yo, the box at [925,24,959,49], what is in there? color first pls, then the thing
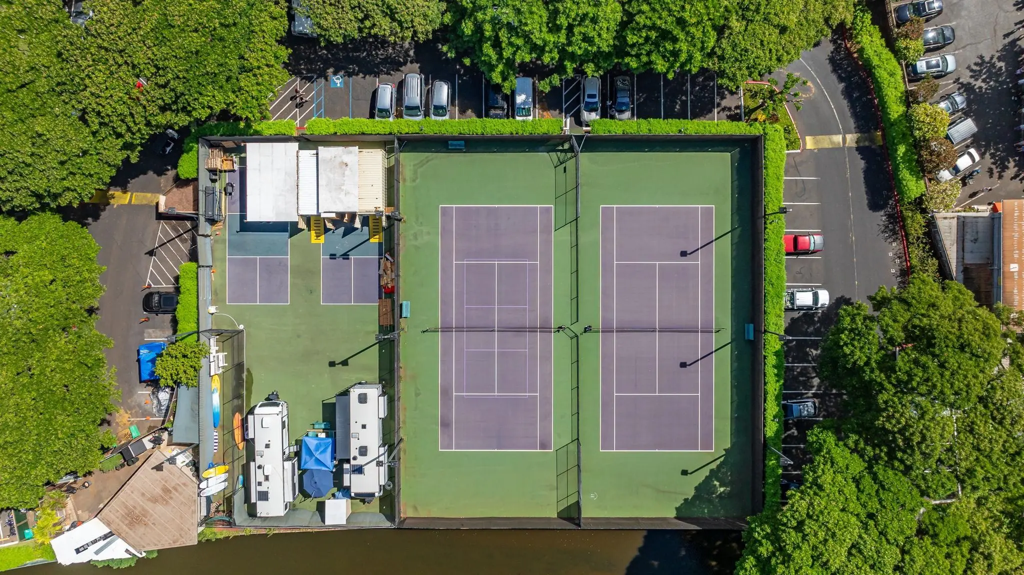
gray car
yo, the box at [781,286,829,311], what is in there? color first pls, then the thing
white truck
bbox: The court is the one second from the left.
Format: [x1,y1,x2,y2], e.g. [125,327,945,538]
[321,212,383,304]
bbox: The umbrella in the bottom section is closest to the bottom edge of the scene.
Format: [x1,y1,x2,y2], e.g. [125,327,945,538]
[303,469,333,497]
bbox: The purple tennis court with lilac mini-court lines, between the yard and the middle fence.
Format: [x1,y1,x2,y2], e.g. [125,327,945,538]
[440,205,553,451]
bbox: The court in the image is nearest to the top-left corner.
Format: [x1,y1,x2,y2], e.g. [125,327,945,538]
[227,166,289,304]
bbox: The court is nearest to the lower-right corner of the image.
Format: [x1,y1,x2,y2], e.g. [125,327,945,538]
[600,205,714,451]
